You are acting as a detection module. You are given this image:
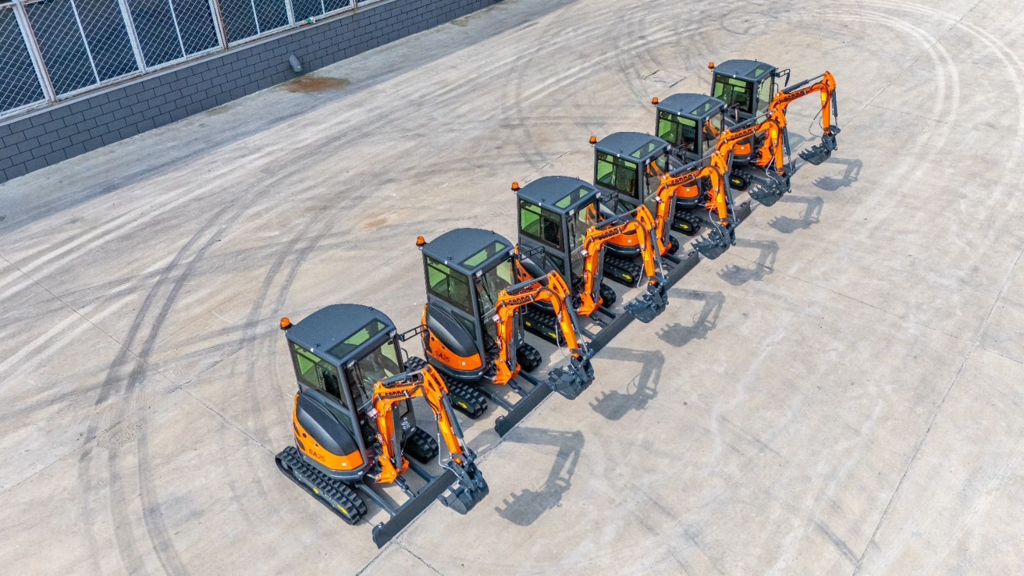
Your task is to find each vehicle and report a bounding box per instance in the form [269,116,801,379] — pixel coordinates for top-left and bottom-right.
[400,228,595,437]
[273,305,488,547]
[489,175,669,360]
[644,92,795,237]
[570,130,739,293]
